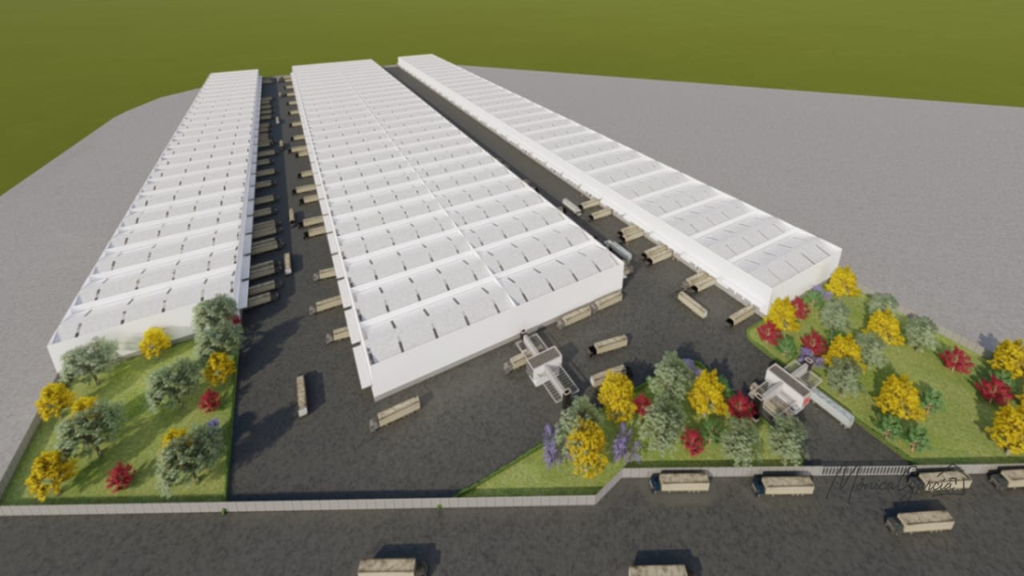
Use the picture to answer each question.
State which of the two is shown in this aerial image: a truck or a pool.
truck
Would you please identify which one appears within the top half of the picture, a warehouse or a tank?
warehouse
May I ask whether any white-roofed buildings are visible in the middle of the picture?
Yes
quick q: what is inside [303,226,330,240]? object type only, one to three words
vehicle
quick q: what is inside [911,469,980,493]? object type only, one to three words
truck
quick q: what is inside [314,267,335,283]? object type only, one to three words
vehicle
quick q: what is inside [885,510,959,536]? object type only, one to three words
truck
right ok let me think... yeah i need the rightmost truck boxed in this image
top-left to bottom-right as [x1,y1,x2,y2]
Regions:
[986,468,1024,491]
